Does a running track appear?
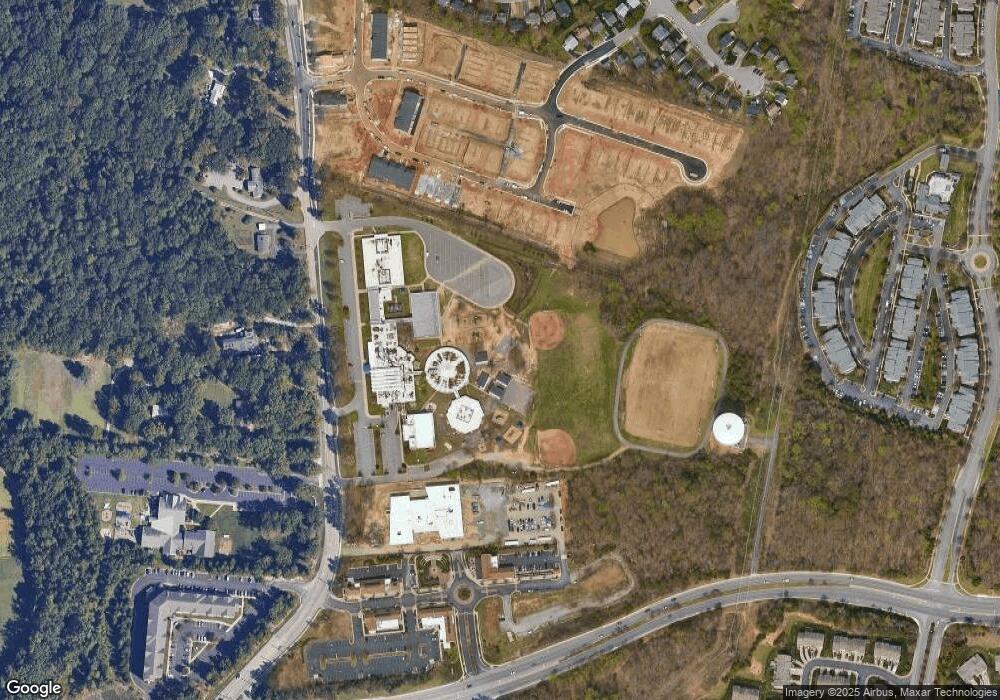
Yes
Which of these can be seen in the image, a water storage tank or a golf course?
water storage tank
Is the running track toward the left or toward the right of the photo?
right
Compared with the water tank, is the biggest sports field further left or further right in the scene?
on the left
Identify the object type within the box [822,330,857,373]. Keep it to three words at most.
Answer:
building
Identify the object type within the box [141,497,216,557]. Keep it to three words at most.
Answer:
building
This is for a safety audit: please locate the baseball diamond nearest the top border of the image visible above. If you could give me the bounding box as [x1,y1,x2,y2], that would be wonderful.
[530,311,564,350]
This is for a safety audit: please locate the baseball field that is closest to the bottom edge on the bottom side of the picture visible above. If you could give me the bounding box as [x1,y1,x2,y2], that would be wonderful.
[535,429,575,468]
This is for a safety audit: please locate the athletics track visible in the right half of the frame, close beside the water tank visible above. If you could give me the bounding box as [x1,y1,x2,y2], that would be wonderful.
[613,318,729,456]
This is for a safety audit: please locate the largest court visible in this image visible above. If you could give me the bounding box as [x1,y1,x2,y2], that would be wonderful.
[501,377,534,415]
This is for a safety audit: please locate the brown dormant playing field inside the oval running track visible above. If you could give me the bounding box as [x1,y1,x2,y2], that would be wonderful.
[625,325,721,446]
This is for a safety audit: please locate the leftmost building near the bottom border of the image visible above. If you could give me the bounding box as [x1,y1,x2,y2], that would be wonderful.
[144,590,241,683]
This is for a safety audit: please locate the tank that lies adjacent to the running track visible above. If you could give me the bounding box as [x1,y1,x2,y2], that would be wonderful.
[713,414,746,446]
